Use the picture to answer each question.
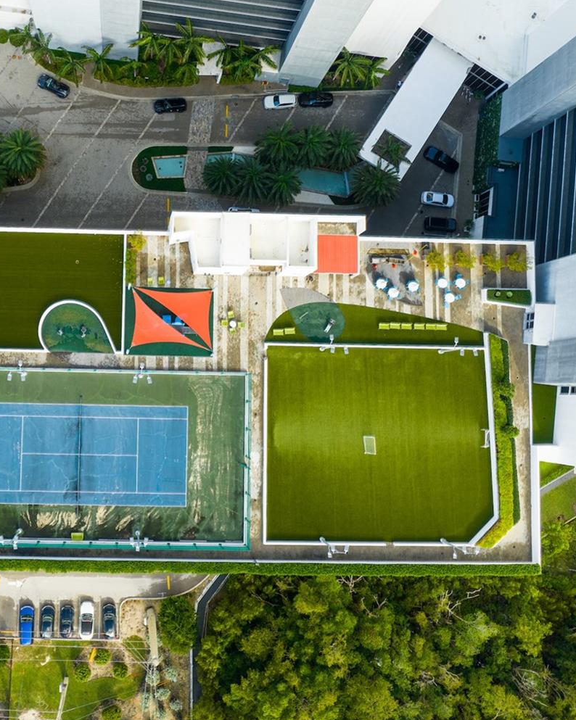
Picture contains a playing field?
Yes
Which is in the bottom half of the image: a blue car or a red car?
blue car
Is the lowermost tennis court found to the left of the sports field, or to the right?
to its left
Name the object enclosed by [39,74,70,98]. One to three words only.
car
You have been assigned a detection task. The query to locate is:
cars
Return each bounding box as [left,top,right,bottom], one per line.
[153,96,186,113]
[263,92,297,109]
[39,603,54,641]
[17,607,34,645]
[424,146,457,172]
[420,192,452,207]
[298,91,332,108]
[78,602,94,639]
[101,603,117,641]
[59,603,75,641]
[39,74,70,98]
